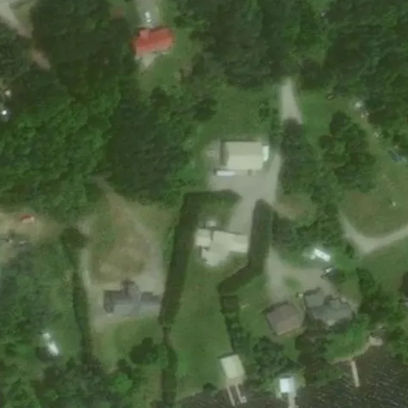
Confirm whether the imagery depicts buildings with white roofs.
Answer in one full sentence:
Yes, there is a building with a white roof in the image.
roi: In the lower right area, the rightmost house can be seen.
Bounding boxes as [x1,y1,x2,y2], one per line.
[303,291,356,330]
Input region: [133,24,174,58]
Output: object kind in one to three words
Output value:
house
